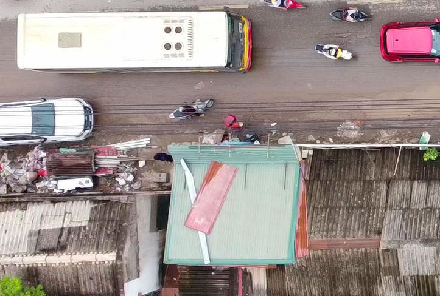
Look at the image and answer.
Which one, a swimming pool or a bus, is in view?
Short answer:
bus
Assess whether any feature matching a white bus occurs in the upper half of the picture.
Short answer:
Yes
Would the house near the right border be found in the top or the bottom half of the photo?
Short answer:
bottom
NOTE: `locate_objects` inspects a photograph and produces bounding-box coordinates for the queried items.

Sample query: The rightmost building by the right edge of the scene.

[268,145,440,296]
